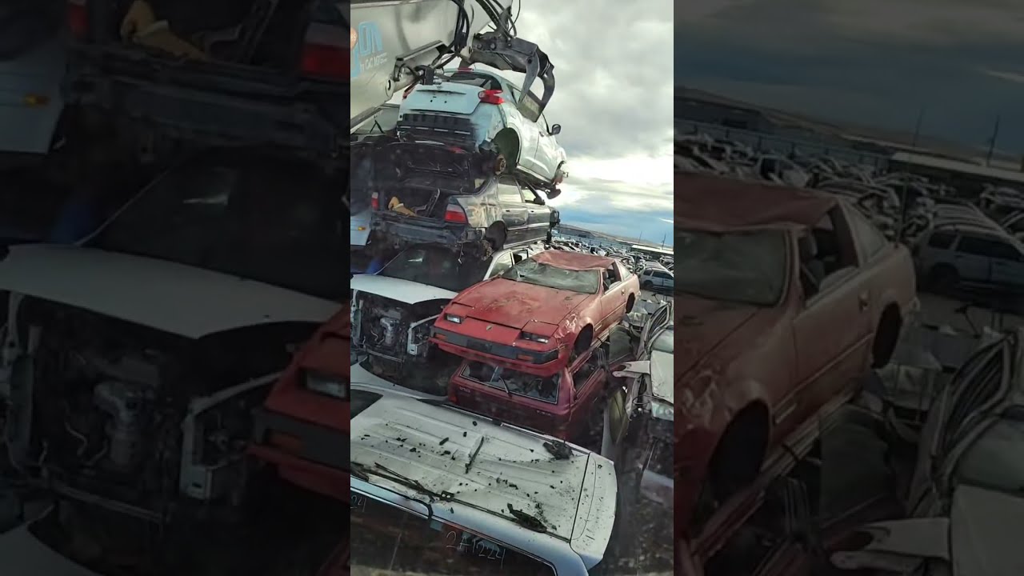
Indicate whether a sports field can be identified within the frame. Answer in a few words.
No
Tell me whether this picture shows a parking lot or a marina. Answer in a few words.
parking lot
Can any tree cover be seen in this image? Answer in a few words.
No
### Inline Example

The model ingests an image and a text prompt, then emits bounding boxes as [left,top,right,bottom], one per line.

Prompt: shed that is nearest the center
[619,241,674,267]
